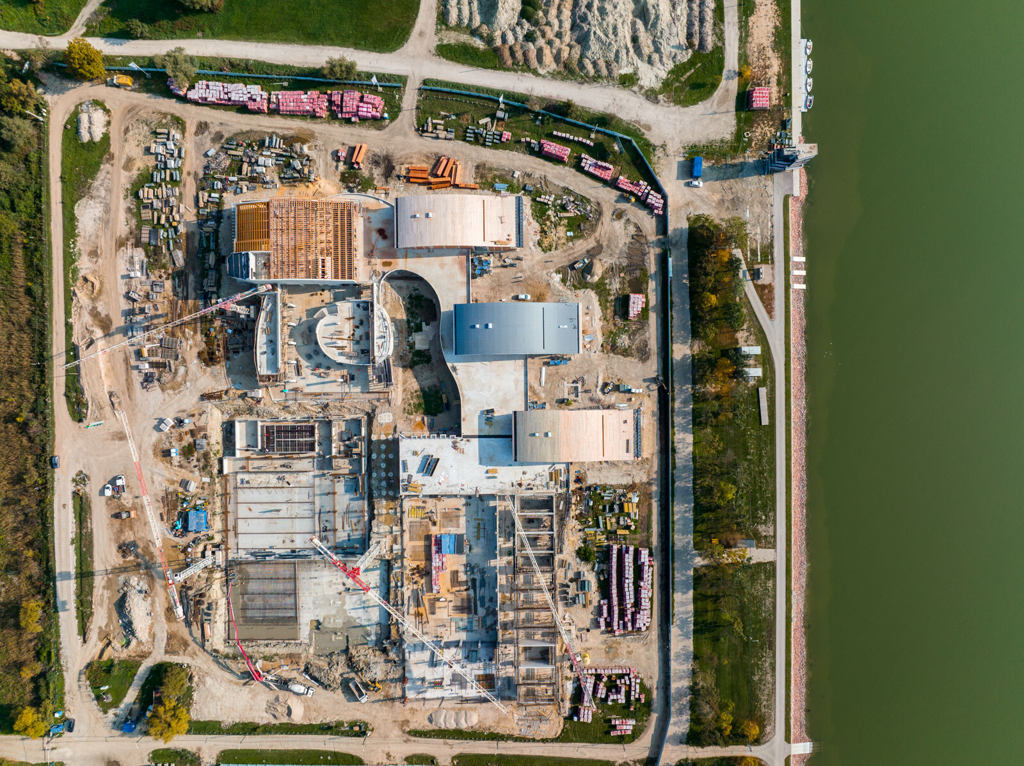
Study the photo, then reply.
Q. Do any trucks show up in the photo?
Yes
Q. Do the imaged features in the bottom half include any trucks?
Yes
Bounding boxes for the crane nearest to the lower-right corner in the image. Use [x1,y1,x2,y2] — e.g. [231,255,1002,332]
[507,498,597,714]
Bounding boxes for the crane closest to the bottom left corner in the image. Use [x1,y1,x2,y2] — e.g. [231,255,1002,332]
[116,410,225,623]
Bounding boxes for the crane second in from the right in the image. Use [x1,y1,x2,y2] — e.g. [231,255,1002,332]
[308,534,510,717]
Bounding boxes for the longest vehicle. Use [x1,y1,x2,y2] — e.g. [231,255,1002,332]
[227,580,288,696]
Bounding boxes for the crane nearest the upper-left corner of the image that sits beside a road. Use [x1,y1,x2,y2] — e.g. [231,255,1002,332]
[58,282,276,370]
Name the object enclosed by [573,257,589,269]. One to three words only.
vehicle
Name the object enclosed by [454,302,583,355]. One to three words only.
building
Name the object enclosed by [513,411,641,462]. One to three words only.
building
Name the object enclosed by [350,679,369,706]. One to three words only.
vehicle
